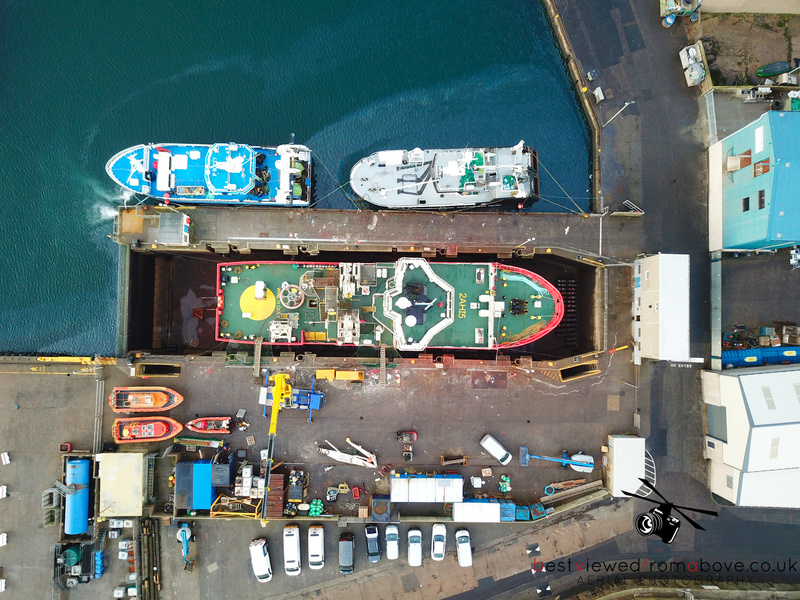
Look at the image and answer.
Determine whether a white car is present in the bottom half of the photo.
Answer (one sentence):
Yes, I can see a white car in the bottom half of the photo.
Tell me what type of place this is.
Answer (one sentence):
The picture captures a port.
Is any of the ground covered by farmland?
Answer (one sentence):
No, there's no farmland in this view.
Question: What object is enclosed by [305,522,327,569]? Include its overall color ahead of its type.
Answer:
white vehicle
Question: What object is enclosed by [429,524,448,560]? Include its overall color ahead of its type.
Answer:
white car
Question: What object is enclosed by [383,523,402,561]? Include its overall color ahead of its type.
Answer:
white car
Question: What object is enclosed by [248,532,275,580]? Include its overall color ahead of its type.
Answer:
white vehicle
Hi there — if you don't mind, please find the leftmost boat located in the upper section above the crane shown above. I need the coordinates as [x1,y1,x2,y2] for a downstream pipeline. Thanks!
[105,131,315,207]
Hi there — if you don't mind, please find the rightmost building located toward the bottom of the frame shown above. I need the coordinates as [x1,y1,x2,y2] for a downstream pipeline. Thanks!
[699,368,800,507]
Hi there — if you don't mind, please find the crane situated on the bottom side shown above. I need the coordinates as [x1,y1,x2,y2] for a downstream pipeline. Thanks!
[259,371,327,527]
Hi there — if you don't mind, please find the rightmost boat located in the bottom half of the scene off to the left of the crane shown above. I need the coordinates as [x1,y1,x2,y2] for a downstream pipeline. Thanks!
[184,417,237,434]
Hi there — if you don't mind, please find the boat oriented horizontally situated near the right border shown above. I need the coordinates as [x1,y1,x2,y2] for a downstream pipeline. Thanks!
[753,62,790,77]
